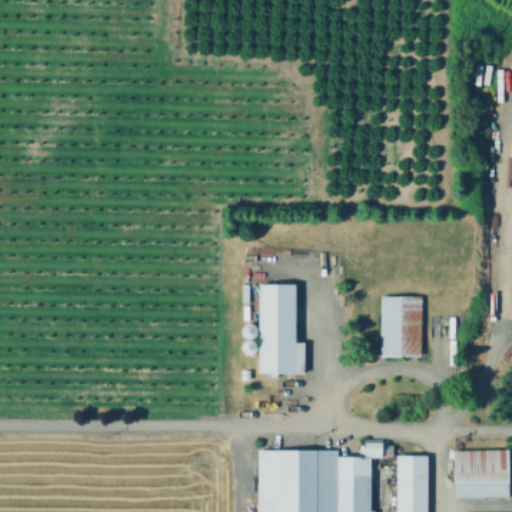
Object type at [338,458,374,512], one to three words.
shed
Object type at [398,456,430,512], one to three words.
shed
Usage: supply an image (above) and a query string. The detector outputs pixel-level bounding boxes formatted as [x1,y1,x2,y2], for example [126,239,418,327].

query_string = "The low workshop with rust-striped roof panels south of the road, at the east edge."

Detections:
[455,450,510,498]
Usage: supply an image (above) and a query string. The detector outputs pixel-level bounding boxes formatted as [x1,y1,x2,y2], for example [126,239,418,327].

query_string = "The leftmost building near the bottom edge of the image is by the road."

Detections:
[259,450,338,512]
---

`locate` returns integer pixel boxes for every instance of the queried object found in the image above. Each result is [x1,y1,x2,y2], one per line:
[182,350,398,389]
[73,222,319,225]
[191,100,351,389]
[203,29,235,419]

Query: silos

[242,340,258,356]
[242,324,258,340]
